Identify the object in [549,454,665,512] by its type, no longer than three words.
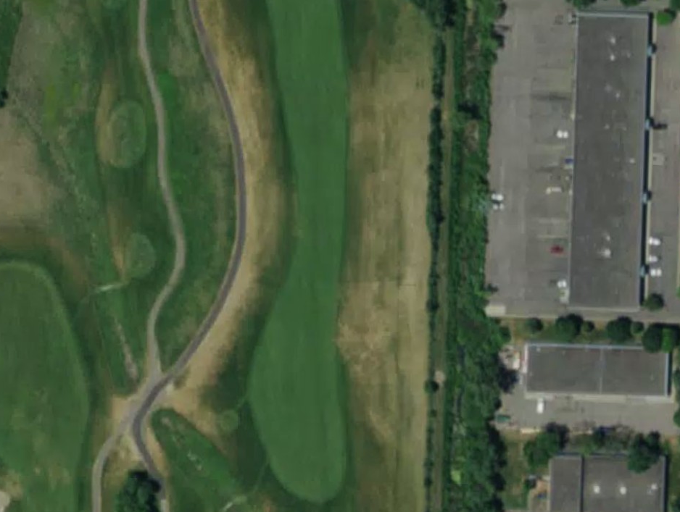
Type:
building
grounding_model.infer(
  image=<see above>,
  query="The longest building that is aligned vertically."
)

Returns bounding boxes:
[566,14,655,312]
